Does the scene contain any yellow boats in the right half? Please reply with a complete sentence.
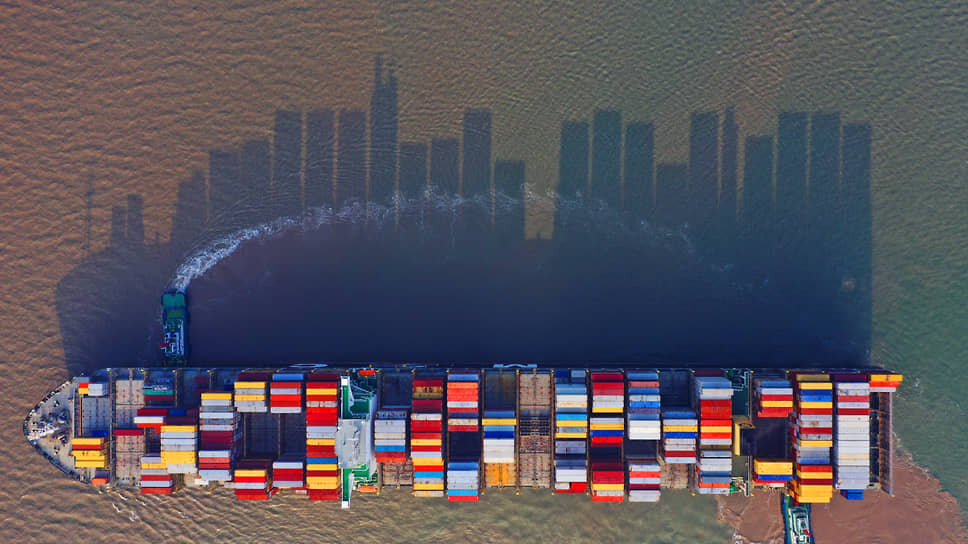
No, there's no yellow boat to be seen in the right half.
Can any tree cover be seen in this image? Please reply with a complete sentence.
No, tree cover can't be seen anywhere here.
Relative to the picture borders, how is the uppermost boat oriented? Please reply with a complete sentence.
In this picture, the uppermost boat lies up and down.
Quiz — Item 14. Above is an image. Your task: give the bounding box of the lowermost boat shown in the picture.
[784,489,819,544]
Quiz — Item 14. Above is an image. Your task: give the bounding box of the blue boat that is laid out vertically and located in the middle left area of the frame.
[157,290,190,366]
